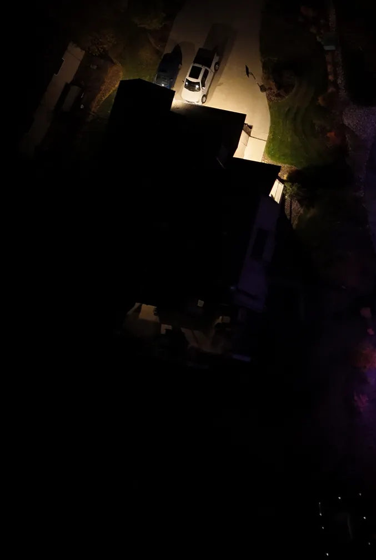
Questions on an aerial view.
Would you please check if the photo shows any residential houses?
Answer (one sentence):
Yes, there's a residential house here.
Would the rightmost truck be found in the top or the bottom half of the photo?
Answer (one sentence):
The rightmost truck is in the top half of the image.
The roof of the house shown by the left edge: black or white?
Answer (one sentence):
In this view, the roof of the house shown by the left edge is black.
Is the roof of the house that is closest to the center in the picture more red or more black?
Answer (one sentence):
The roof of the house that is closest to the center is black.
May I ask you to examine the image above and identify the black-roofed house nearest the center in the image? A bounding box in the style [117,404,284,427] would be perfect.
[105,75,284,313]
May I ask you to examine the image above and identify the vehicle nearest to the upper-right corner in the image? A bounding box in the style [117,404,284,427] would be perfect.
[182,43,222,105]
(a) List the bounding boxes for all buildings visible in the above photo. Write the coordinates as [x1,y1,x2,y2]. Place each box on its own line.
[105,75,284,313]
[0,0,85,168]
